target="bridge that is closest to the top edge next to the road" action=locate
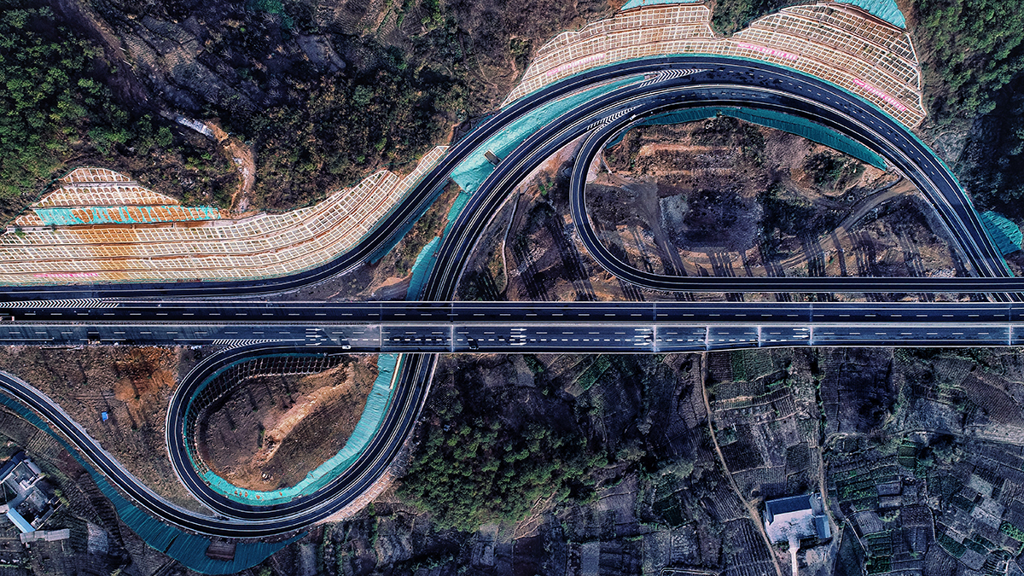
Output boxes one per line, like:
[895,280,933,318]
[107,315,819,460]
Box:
[571,150,1024,292]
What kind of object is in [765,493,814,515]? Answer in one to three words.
house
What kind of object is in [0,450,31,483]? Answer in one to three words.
house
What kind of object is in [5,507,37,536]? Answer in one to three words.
shed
